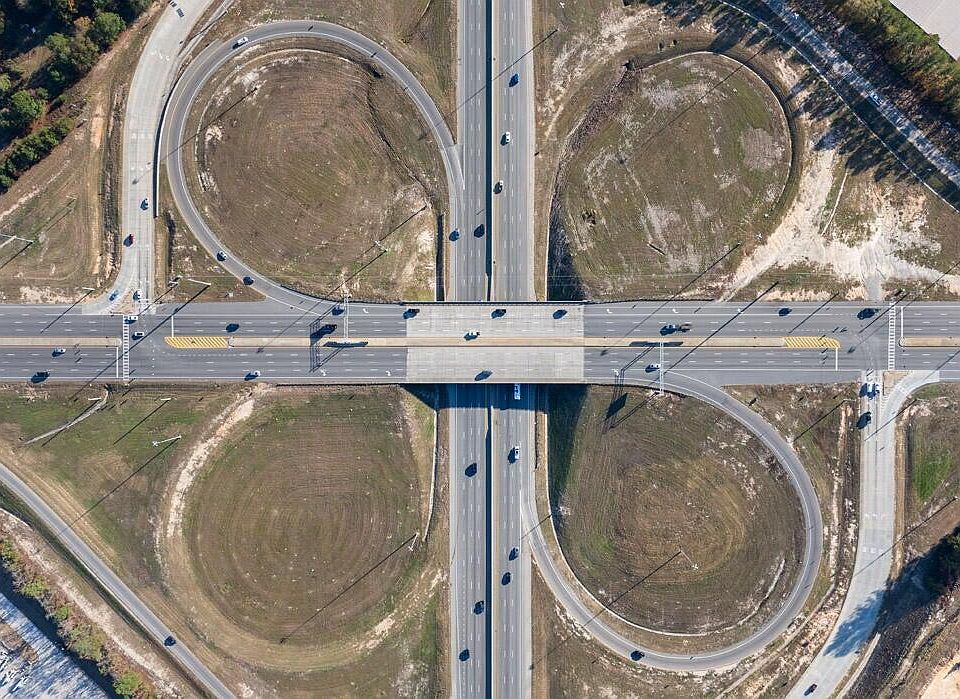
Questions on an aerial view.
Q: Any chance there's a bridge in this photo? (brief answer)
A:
Yes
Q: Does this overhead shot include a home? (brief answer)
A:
No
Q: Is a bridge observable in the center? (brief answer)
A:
Yes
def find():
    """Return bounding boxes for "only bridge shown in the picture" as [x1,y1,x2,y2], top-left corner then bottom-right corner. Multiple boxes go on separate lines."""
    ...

[403,301,587,384]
